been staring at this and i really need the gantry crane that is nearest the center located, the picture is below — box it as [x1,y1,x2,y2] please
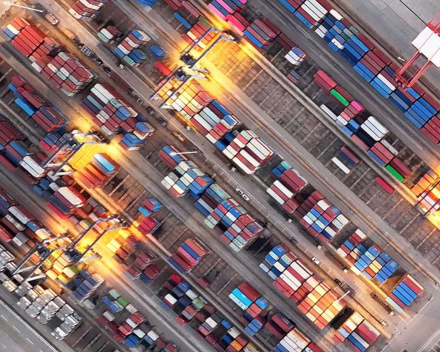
[148,64,209,114]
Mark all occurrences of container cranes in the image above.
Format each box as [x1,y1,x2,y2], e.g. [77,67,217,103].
[180,26,235,75]
[43,129,104,179]
[148,64,209,114]
[17,230,72,282]
[391,14,440,92]
[66,214,128,262]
